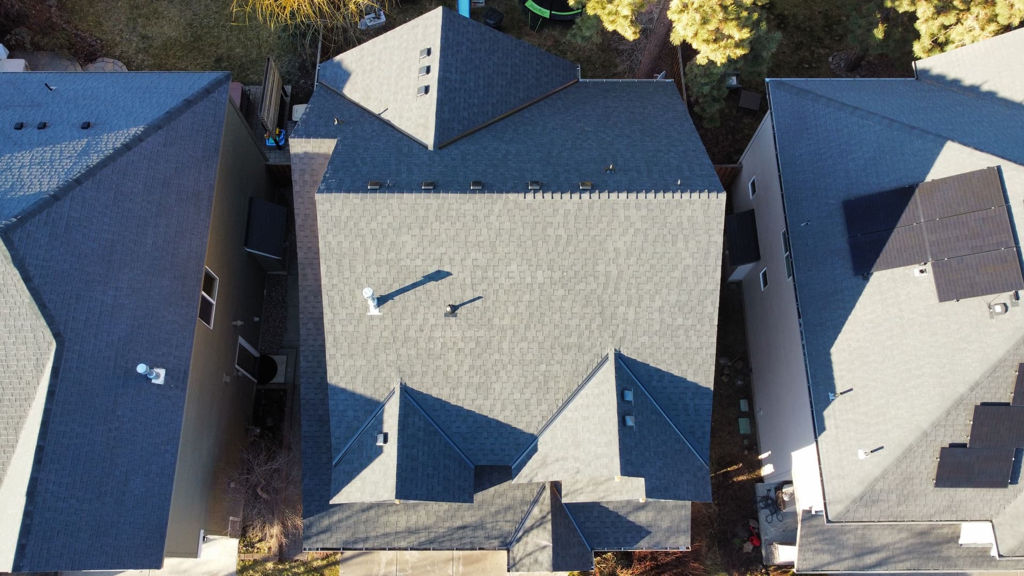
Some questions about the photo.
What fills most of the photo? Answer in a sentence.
Most of the picture is covered by buildings.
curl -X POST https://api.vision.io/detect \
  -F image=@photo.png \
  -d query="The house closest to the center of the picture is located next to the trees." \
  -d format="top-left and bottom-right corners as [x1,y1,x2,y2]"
[287,4,727,571]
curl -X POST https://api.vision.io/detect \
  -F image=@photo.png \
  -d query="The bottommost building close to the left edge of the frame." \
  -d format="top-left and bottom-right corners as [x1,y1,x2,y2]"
[0,71,295,573]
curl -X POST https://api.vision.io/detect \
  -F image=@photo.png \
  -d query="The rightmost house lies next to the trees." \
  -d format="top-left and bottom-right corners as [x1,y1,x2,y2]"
[721,28,1024,576]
